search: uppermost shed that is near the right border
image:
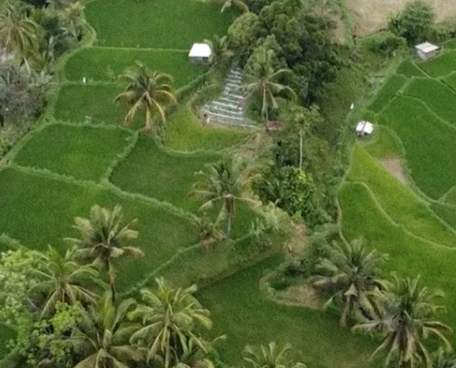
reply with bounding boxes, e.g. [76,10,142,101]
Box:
[417,43,443,64]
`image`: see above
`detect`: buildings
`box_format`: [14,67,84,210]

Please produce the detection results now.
[190,49,212,71]
[357,123,376,140]
[417,43,443,64]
